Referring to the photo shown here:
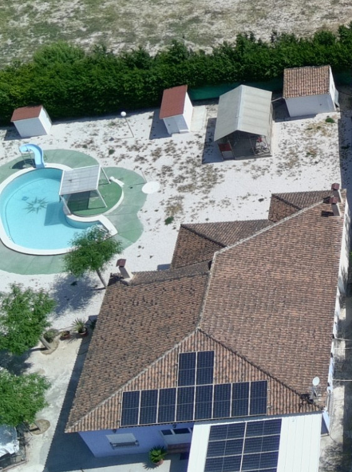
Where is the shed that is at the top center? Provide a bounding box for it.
[161,83,192,136]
